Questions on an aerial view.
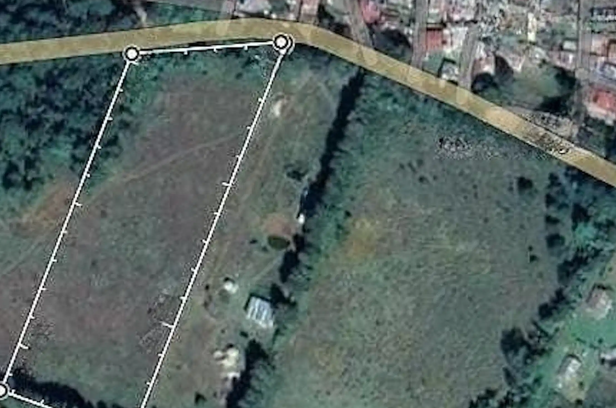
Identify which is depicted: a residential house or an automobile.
residential house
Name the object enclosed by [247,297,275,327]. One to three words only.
house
